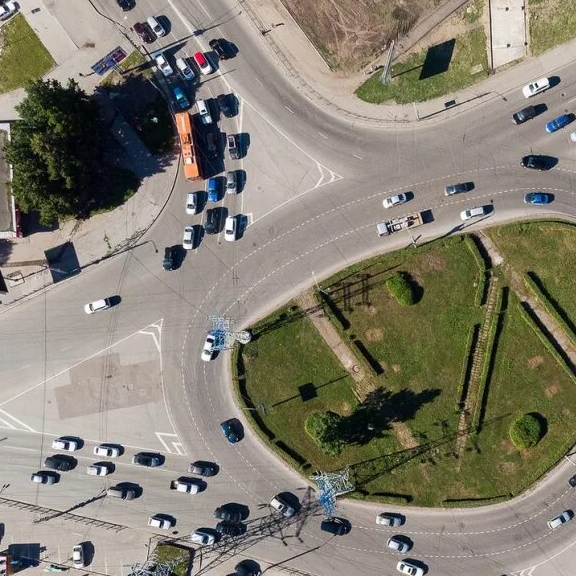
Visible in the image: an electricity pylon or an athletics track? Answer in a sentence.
The one in the frame is an electricity pylon.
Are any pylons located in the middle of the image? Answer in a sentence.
Yes, a pylon shows up in the middle of the image.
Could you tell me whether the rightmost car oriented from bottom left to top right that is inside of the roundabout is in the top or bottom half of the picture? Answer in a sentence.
Seen from above, the rightmost car oriented from bottom left to top right that is inside of the roundabout lies in the bottom half of the view.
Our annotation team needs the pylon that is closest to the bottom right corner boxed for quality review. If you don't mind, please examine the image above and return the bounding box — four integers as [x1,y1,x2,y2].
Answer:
[317,465,357,516]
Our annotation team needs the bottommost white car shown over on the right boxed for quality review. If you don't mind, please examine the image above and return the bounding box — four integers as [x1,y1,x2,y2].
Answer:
[396,560,423,576]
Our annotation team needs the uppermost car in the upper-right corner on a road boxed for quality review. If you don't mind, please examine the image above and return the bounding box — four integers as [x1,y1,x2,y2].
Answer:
[522,78,549,97]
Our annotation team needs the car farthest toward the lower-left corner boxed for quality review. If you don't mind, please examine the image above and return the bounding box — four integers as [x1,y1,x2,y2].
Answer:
[70,544,85,567]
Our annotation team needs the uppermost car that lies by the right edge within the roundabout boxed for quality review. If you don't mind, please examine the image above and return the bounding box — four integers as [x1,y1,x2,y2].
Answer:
[518,154,548,169]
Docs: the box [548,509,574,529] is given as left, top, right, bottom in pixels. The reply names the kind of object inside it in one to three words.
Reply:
car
